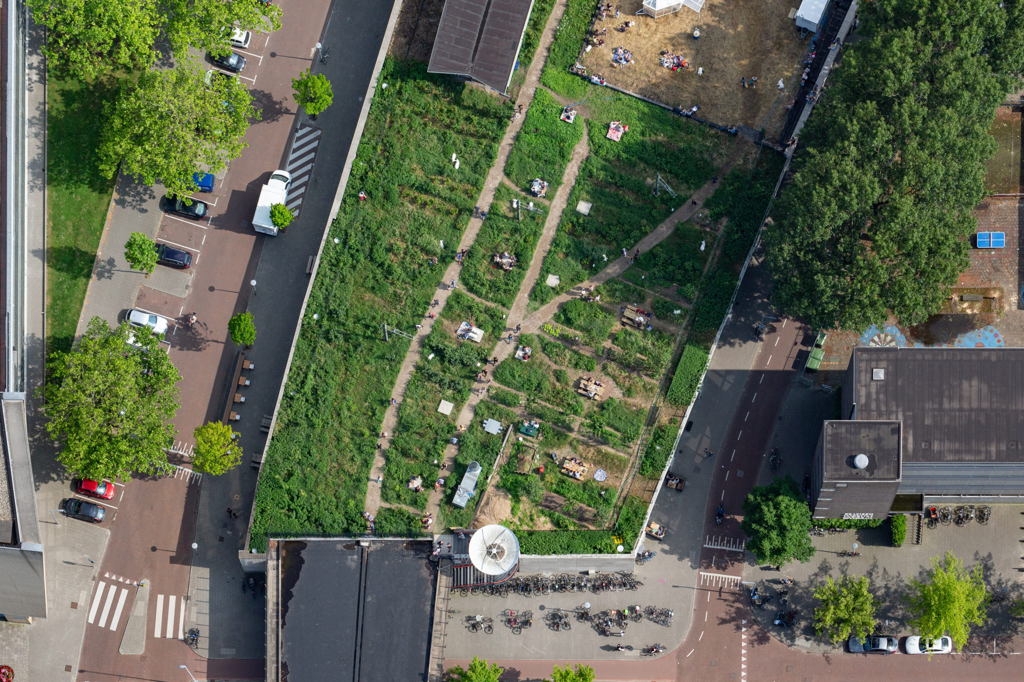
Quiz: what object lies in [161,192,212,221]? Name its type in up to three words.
car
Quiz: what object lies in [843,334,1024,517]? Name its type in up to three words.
building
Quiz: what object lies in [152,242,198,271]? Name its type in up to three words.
car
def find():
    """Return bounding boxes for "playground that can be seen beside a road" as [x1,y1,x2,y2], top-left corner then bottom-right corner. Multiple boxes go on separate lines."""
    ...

[801,0,1024,386]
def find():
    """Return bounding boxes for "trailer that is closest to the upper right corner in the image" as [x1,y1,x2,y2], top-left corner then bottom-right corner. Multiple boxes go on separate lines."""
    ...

[796,0,829,38]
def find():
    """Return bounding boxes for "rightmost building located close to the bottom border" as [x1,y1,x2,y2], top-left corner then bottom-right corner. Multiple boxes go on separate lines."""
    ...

[267,538,454,682]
